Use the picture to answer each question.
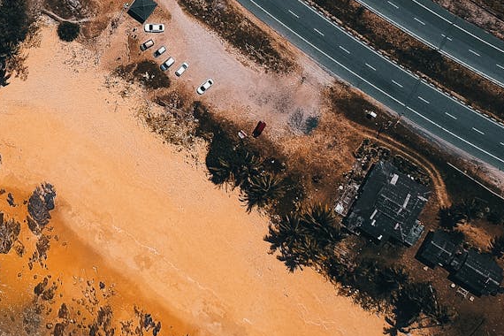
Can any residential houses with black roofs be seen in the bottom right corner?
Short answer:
Yes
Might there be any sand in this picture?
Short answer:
Yes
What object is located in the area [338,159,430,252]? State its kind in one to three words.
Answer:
house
